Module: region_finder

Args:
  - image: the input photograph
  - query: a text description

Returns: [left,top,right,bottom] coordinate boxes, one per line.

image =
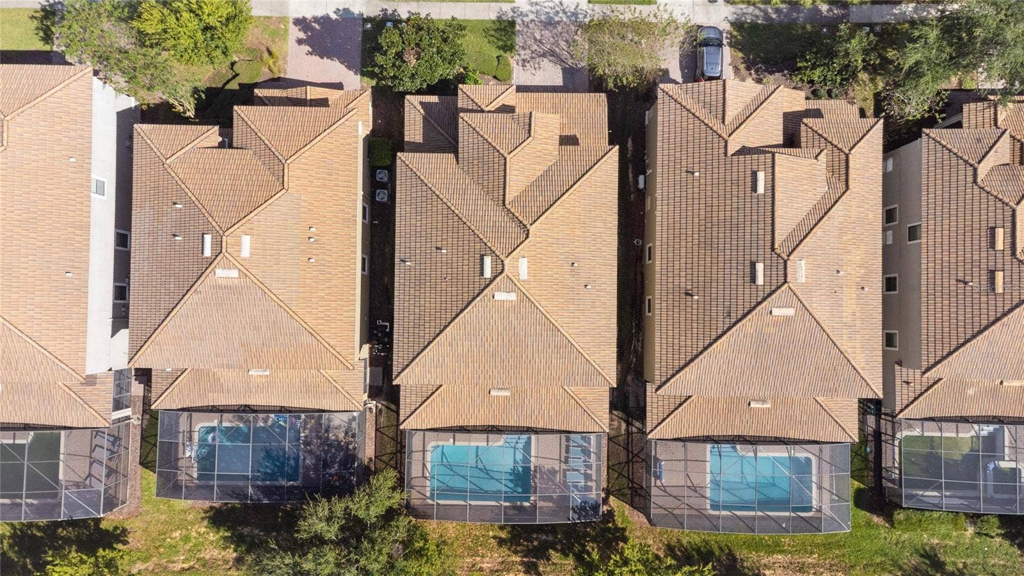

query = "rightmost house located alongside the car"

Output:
[643,79,885,444]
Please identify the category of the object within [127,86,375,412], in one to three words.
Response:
house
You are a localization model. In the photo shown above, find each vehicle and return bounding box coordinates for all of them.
[697,25,728,82]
